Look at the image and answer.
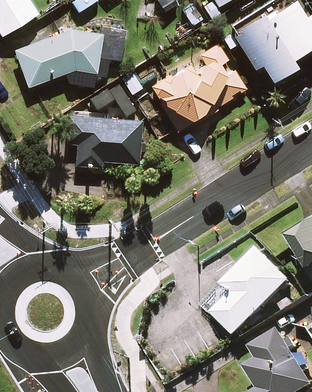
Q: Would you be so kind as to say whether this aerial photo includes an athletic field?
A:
No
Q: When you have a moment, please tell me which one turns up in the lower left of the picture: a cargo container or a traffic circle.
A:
traffic circle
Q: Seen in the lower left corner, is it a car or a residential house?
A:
car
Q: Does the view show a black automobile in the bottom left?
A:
Yes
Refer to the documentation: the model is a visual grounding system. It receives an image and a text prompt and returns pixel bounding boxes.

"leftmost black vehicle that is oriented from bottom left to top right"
[202,200,225,218]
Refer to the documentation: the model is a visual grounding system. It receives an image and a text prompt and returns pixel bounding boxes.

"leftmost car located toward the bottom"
[2,320,20,344]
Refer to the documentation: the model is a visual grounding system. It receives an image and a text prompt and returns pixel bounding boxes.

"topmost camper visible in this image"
[182,4,204,27]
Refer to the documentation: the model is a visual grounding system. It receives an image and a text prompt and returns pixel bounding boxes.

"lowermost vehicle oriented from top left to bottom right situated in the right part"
[182,132,202,156]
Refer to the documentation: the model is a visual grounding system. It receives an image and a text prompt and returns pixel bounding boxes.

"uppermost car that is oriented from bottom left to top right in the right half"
[292,86,312,106]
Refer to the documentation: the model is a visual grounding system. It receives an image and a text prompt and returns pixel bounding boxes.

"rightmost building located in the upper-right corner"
[236,0,312,84]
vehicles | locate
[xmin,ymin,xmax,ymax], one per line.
[202,200,225,218]
[292,121,312,138]
[2,320,20,344]
[292,86,312,106]
[264,134,286,150]
[182,132,202,156]
[239,149,262,168]
[0,81,8,100]
[226,203,246,218]
[276,312,296,328]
